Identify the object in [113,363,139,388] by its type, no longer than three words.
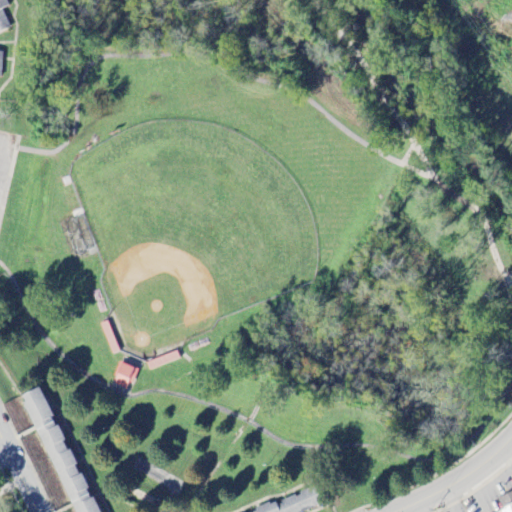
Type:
building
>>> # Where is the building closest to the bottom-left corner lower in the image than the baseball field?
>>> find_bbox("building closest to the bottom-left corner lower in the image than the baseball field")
[20,388,100,512]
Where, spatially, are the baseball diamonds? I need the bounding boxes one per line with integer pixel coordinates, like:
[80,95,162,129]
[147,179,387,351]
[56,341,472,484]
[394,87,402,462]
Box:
[70,118,318,360]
